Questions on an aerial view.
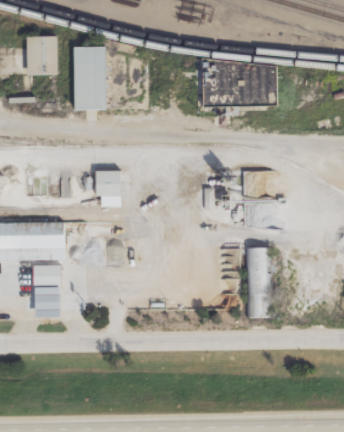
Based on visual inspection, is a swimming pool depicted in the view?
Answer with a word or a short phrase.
No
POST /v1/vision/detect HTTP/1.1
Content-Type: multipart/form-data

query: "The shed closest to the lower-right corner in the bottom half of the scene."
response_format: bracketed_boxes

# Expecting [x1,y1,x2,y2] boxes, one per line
[246,248,270,318]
